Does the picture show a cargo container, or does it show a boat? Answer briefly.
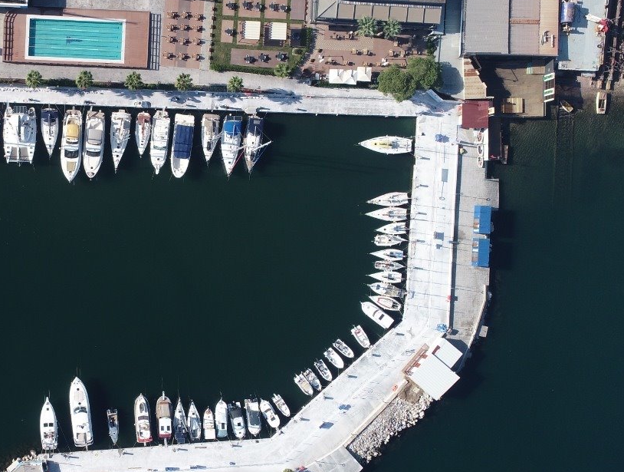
boat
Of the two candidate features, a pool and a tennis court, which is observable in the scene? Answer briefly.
pool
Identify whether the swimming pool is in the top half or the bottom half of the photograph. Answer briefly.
top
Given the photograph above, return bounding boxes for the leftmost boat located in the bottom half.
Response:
[37,394,61,460]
